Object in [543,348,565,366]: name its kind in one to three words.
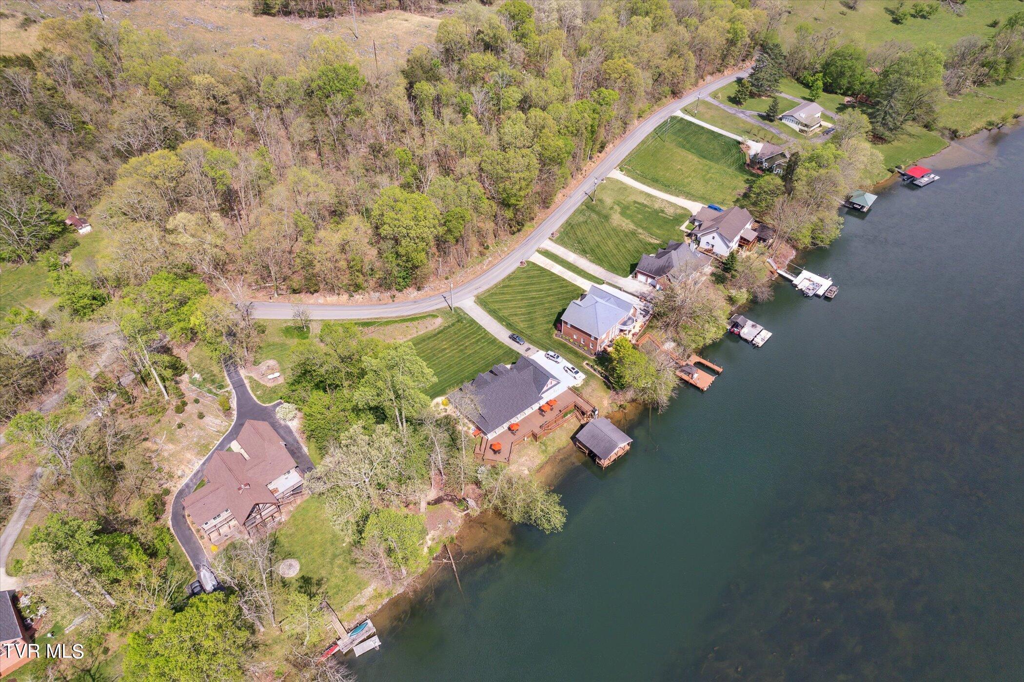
car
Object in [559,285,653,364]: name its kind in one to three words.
house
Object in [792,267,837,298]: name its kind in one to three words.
pier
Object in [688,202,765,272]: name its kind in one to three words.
house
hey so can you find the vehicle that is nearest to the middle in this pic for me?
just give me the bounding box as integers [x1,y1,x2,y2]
[507,331,527,347]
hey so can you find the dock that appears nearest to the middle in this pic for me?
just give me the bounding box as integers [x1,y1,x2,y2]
[676,354,724,393]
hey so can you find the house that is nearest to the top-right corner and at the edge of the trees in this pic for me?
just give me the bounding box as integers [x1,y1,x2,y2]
[781,100,824,137]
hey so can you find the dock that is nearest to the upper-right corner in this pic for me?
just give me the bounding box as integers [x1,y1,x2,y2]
[895,165,939,187]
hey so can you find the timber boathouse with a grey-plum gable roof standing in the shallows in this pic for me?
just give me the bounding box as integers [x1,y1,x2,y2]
[575,418,633,470]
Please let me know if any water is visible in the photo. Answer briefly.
Yes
